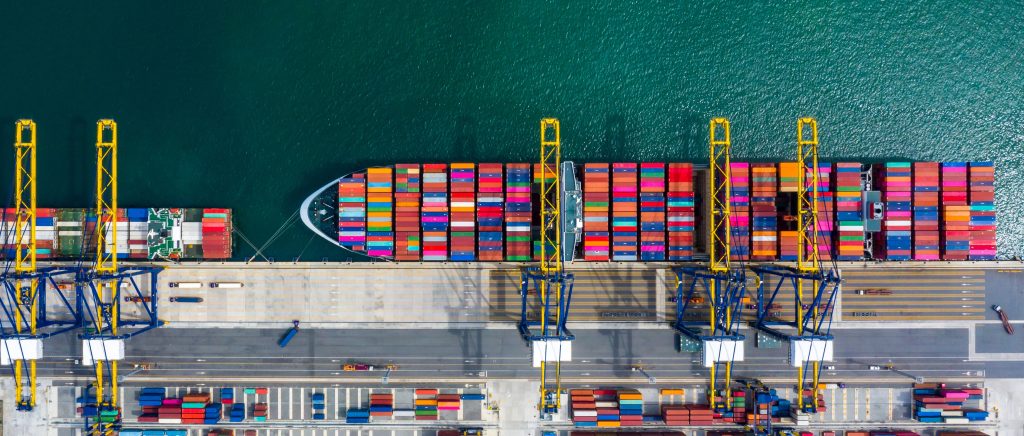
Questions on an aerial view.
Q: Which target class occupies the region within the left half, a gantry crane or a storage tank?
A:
gantry crane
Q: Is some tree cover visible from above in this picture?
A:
No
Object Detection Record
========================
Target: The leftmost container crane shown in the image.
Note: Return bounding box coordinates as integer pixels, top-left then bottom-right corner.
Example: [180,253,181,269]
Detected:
[0,119,98,415]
